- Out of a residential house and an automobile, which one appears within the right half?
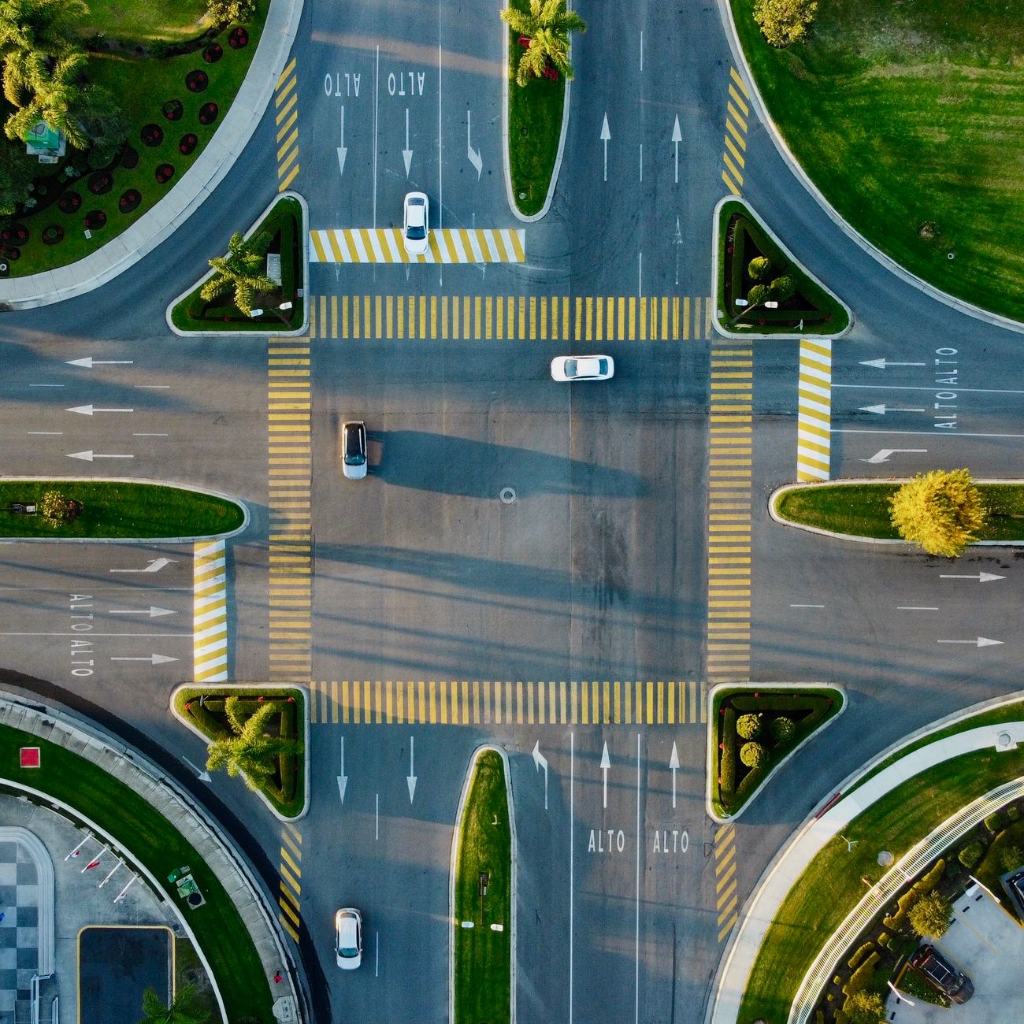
automobile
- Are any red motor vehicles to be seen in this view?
No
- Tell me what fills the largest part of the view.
paved ground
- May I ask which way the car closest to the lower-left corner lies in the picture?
from top to bottom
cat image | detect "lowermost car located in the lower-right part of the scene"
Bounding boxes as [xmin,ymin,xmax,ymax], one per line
[910,939,968,1003]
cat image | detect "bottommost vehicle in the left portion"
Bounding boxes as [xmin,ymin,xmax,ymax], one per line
[334,905,362,966]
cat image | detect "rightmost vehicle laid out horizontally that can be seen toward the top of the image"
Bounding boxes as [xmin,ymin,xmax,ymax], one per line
[551,354,613,383]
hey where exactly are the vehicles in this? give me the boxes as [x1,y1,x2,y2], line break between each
[341,422,368,478]
[910,939,968,1003]
[334,905,362,966]
[402,192,430,256]
[551,354,613,383]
